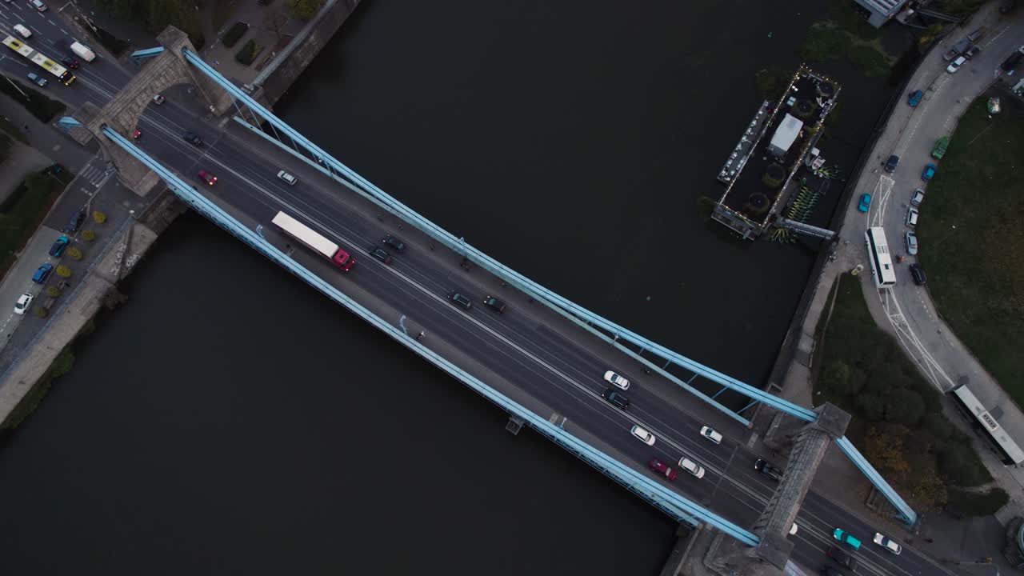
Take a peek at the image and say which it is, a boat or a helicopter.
boat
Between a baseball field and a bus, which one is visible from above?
bus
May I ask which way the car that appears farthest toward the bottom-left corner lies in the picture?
on a diagonal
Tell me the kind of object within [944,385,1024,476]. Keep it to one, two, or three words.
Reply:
bus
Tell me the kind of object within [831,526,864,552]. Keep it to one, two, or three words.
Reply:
car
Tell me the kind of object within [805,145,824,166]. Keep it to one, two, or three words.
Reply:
boat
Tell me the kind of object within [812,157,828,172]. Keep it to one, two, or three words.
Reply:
boat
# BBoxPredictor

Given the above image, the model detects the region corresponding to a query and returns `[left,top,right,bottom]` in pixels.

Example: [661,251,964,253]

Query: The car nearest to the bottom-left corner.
[12,291,36,318]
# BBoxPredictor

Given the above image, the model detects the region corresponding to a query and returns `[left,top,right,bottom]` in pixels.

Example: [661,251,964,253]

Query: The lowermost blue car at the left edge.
[32,261,55,284]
